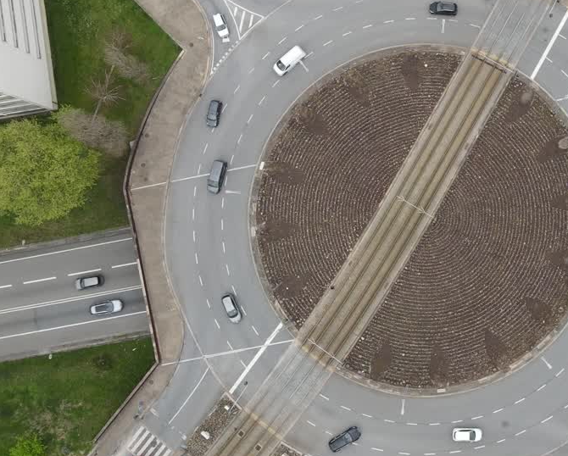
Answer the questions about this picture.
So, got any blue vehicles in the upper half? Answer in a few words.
No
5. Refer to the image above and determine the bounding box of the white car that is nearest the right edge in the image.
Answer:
[452,427,482,442]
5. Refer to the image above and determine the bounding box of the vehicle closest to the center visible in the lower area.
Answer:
[220,294,243,322]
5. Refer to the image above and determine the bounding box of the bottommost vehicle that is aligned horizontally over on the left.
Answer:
[91,299,124,315]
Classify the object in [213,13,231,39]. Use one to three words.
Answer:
car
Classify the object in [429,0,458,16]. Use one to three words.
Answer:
car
